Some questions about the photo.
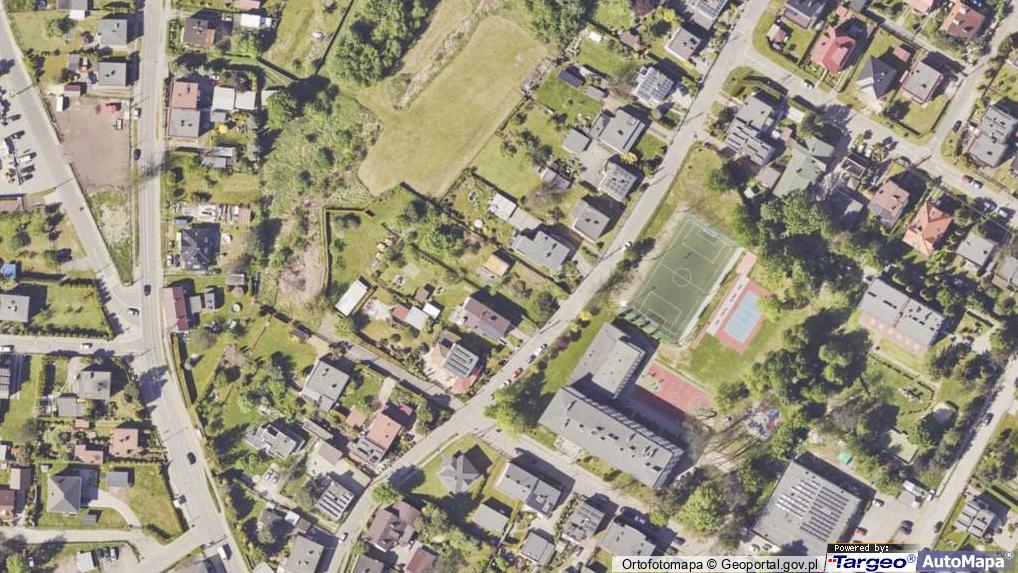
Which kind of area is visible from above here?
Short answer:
residential area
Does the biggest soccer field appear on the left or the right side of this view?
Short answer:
right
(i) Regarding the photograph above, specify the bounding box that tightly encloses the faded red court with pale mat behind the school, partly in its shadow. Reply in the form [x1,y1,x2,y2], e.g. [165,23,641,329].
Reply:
[633,362,713,419]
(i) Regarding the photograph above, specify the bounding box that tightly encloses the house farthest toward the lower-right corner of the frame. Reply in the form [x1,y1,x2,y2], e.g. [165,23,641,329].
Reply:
[954,501,995,537]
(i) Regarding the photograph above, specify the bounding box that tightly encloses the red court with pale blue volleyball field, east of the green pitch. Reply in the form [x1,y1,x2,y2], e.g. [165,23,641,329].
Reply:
[717,280,772,352]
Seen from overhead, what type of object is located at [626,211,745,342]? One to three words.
soccer field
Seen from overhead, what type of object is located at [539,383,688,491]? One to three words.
building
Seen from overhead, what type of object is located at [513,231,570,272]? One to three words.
house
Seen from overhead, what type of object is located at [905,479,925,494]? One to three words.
vehicle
